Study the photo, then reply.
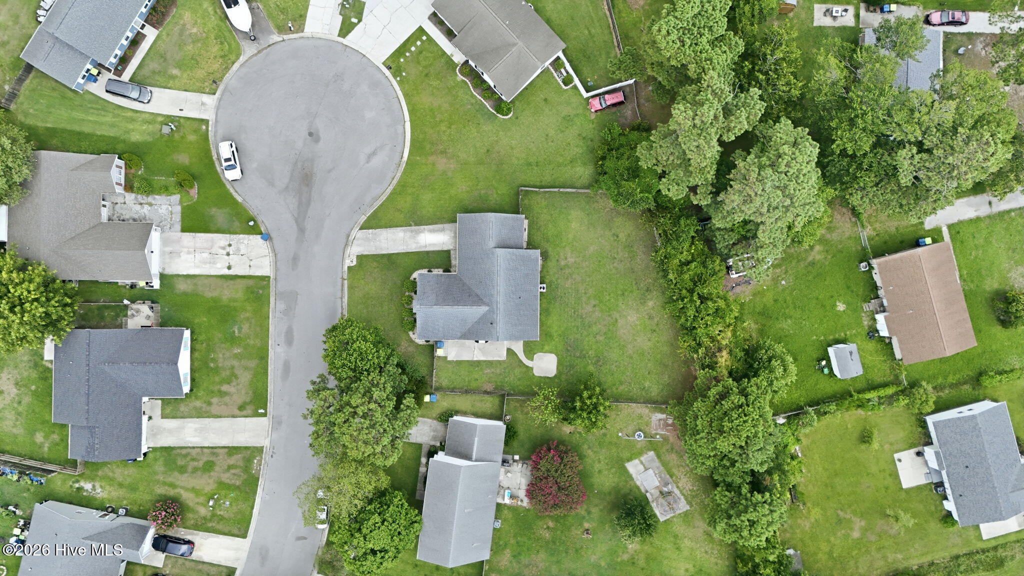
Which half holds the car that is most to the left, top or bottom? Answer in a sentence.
It is in the top half that the car that is most to the left appears.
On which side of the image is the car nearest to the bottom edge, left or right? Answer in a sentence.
You can find the car nearest to the bottom edge on the left side of the picture.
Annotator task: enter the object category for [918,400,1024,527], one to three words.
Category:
house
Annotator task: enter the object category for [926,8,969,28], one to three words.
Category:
car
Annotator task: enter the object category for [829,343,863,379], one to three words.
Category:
shed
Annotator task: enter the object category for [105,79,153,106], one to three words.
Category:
car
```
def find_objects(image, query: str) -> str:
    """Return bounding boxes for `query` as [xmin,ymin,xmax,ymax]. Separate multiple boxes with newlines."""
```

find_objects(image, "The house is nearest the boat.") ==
[20,0,158,91]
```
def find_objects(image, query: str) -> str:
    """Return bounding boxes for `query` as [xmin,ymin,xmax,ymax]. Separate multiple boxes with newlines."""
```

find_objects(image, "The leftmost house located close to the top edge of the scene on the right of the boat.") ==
[425,0,566,104]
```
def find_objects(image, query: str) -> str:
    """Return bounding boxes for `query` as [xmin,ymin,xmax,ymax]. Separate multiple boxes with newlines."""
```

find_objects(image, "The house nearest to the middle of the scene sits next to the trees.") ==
[414,212,541,343]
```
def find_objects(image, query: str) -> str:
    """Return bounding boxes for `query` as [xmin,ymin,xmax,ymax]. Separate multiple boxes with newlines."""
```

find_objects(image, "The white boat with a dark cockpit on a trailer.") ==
[225,0,252,32]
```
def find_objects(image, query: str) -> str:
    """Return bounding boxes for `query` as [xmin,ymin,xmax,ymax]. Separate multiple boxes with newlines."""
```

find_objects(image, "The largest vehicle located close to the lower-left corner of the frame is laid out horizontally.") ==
[151,532,197,558]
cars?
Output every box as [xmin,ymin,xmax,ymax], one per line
[219,139,243,182]
[588,90,626,113]
[105,79,153,106]
[151,532,197,558]
[926,8,969,28]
